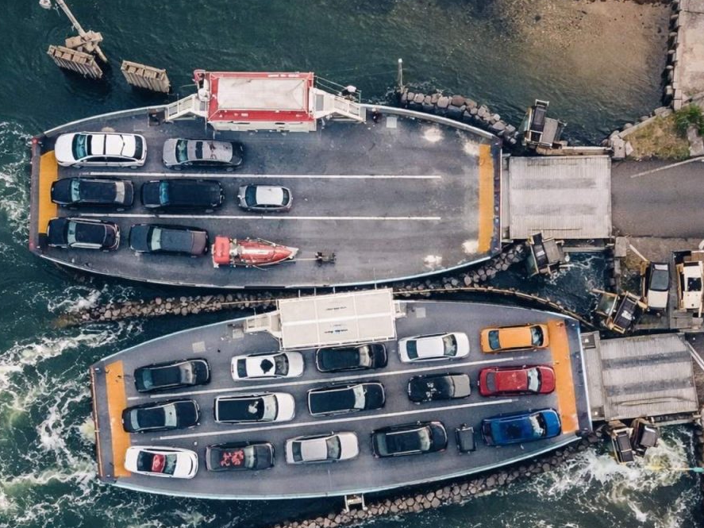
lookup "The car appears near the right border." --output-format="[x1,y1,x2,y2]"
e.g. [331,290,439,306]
[645,265,672,311]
